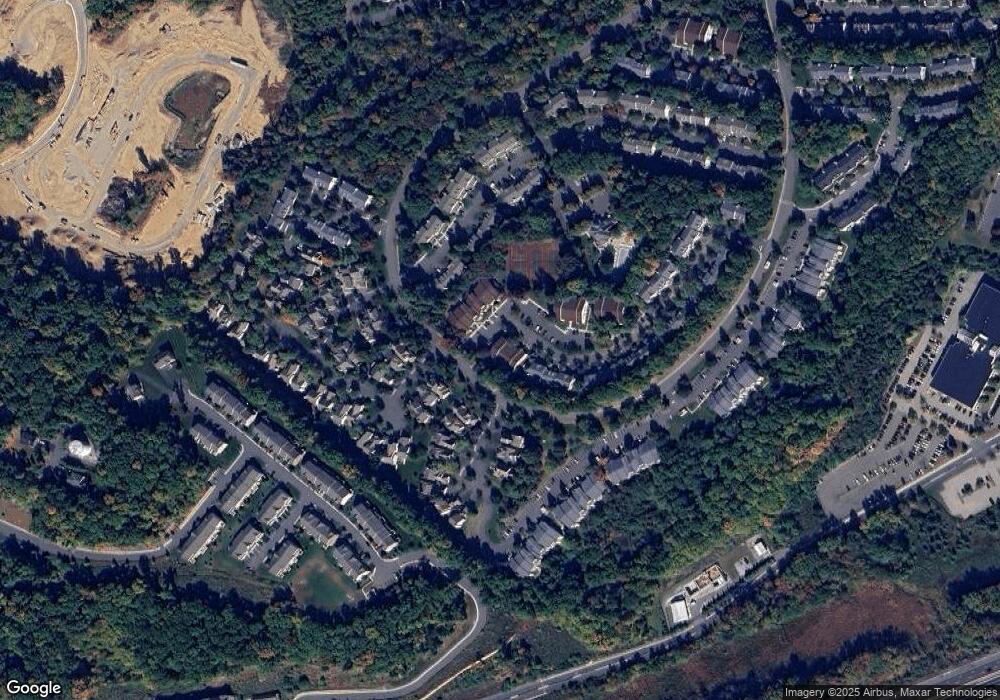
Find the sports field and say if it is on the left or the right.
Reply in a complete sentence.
You can find the sports field on the left side of the picture.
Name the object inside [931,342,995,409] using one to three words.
building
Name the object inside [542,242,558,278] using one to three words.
tennis court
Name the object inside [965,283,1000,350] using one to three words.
building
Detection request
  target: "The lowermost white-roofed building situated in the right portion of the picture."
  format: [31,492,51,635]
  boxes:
[671,599,691,623]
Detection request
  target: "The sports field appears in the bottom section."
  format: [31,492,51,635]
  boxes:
[291,551,359,608]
